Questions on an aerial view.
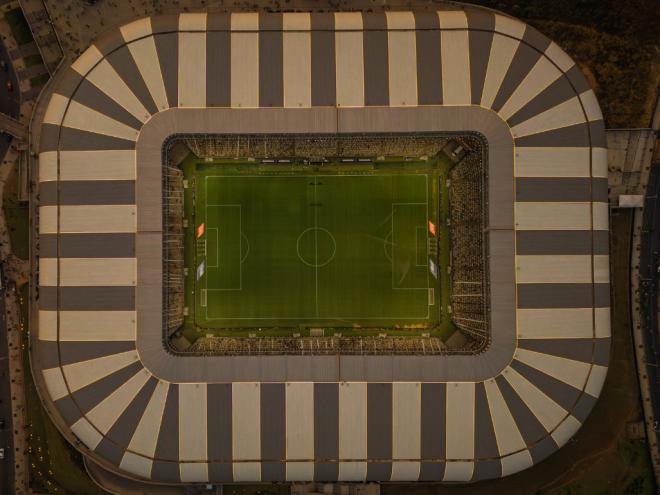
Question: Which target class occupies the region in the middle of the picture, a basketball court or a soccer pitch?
soccer pitch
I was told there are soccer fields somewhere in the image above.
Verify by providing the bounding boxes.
[170,148,465,347]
